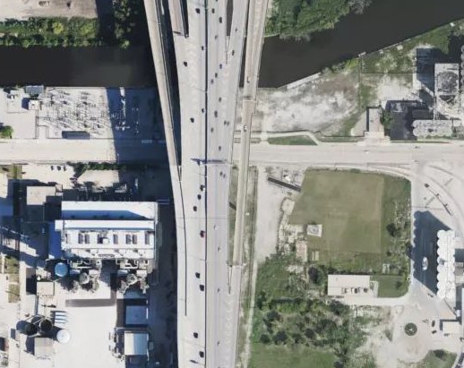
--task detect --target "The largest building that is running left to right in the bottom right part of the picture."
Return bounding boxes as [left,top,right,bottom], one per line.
[329,275,377,297]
